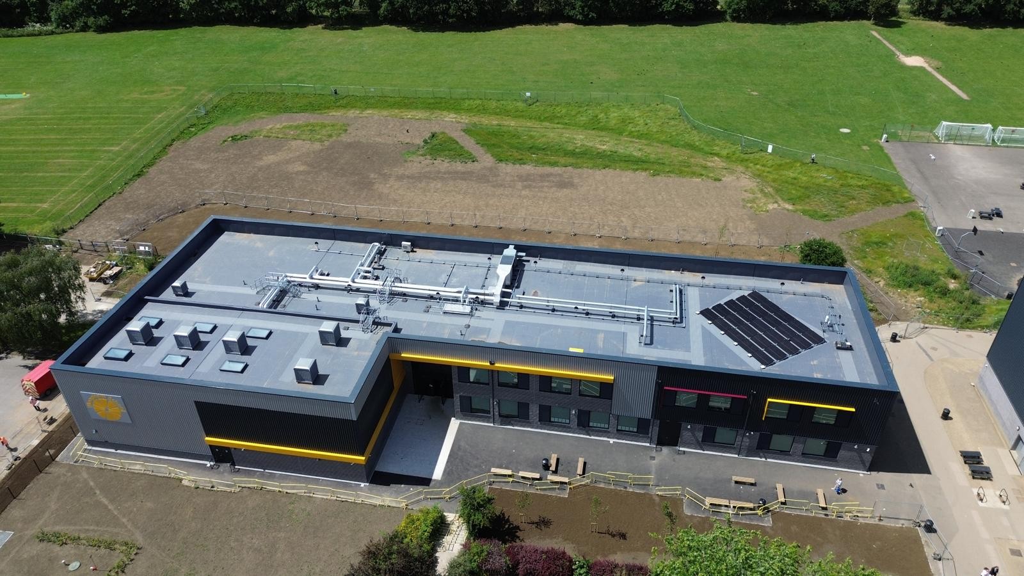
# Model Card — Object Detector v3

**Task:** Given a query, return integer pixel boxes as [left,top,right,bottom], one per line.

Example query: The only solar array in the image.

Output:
[694,292,826,371]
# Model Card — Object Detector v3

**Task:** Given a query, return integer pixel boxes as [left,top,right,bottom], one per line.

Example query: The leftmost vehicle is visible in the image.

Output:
[20,357,58,398]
